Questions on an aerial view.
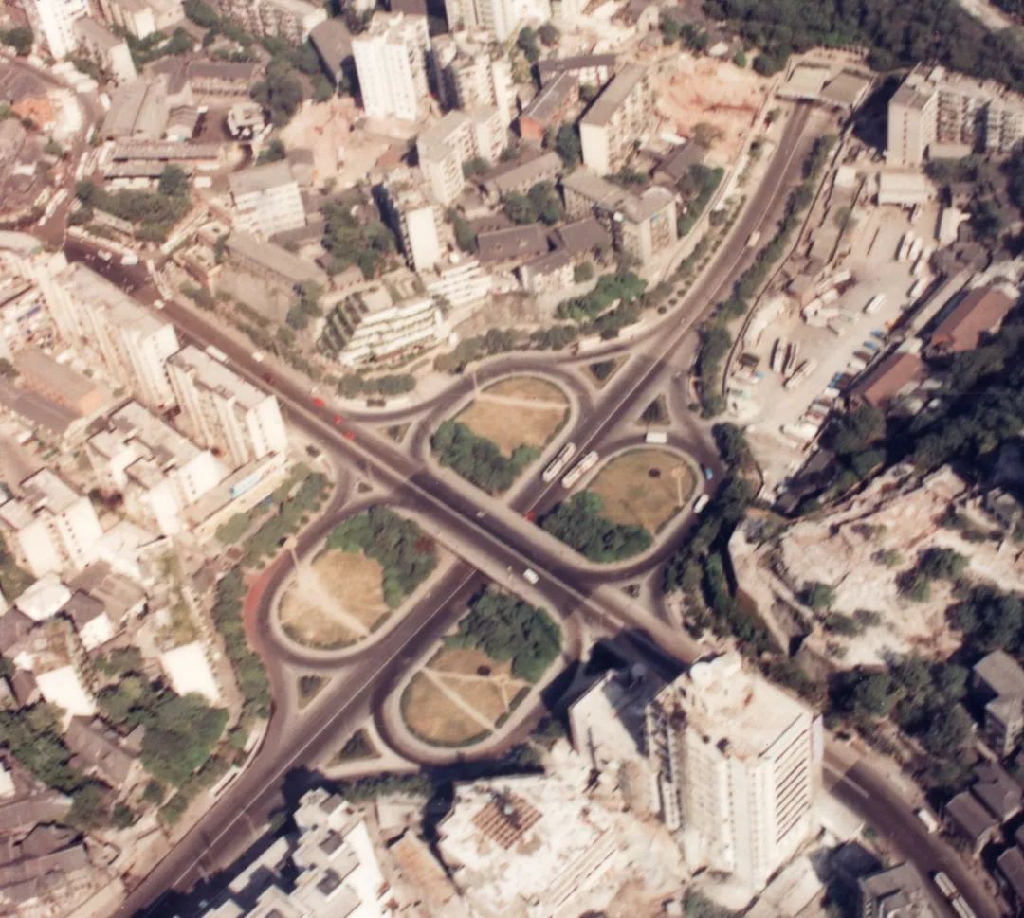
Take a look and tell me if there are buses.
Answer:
Yes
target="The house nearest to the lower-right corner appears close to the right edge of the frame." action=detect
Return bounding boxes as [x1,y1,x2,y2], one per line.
[995,844,1024,910]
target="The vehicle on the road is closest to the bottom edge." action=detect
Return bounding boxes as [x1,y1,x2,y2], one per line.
[936,872,973,918]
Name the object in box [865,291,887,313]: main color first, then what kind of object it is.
white bus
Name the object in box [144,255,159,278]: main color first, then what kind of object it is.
white vehicle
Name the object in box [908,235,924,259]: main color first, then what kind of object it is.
white vehicle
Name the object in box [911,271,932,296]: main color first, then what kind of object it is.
white bus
